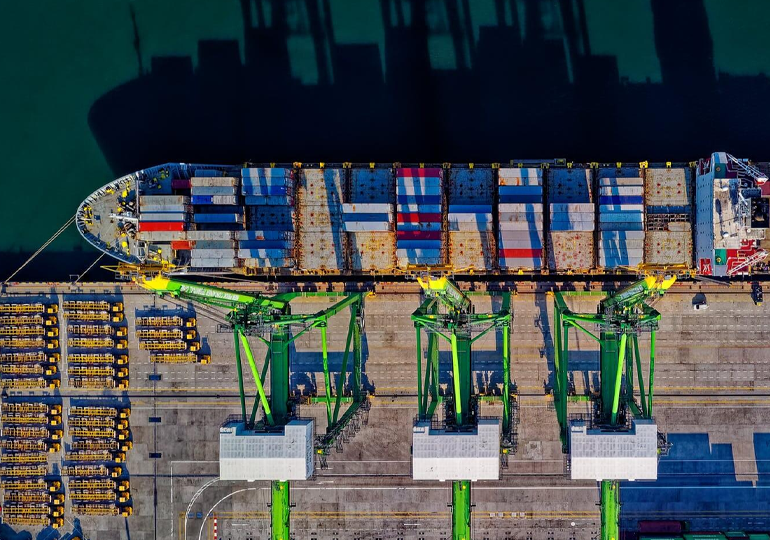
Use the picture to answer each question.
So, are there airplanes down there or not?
No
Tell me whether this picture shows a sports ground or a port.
port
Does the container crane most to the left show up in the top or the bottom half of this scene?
bottom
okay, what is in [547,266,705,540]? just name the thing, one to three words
container crane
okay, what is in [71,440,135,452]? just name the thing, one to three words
vehicle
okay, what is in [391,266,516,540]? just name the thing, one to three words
container crane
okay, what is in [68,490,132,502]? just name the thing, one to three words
vehicle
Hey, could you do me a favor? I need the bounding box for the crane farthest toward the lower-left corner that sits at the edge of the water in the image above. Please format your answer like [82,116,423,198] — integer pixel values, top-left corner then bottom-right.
[113,266,370,540]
